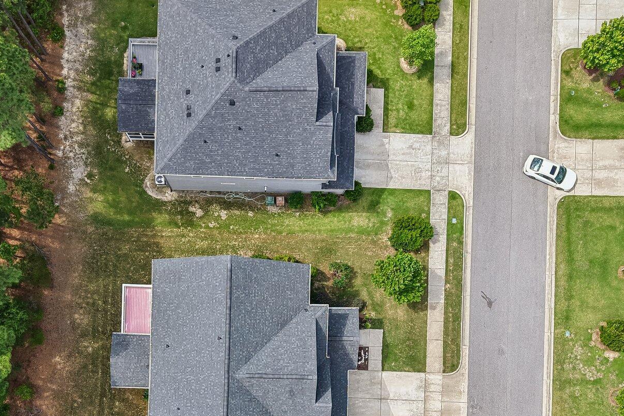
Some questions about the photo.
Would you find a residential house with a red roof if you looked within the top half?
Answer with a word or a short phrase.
No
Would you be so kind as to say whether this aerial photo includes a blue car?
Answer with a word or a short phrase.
No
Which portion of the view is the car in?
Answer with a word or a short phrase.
right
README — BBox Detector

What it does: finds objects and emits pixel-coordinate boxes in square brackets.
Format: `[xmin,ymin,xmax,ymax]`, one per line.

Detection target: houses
[110,255,359,416]
[116,0,368,194]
